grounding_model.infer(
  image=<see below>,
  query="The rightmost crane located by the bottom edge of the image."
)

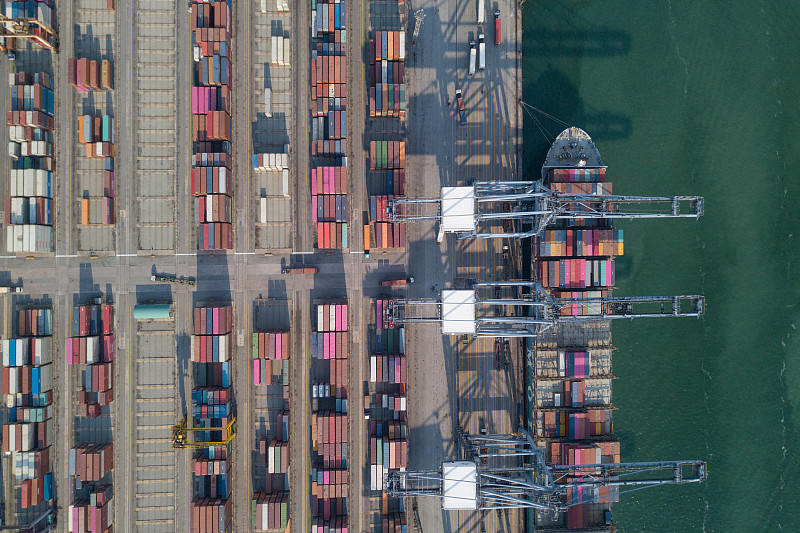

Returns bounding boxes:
[382,413,712,515]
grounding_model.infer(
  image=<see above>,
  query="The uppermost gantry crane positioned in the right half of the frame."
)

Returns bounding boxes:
[380,180,707,249]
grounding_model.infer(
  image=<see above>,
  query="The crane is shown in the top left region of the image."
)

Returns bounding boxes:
[0,13,61,60]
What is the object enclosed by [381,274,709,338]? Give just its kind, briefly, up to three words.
container crane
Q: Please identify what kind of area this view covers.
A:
port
